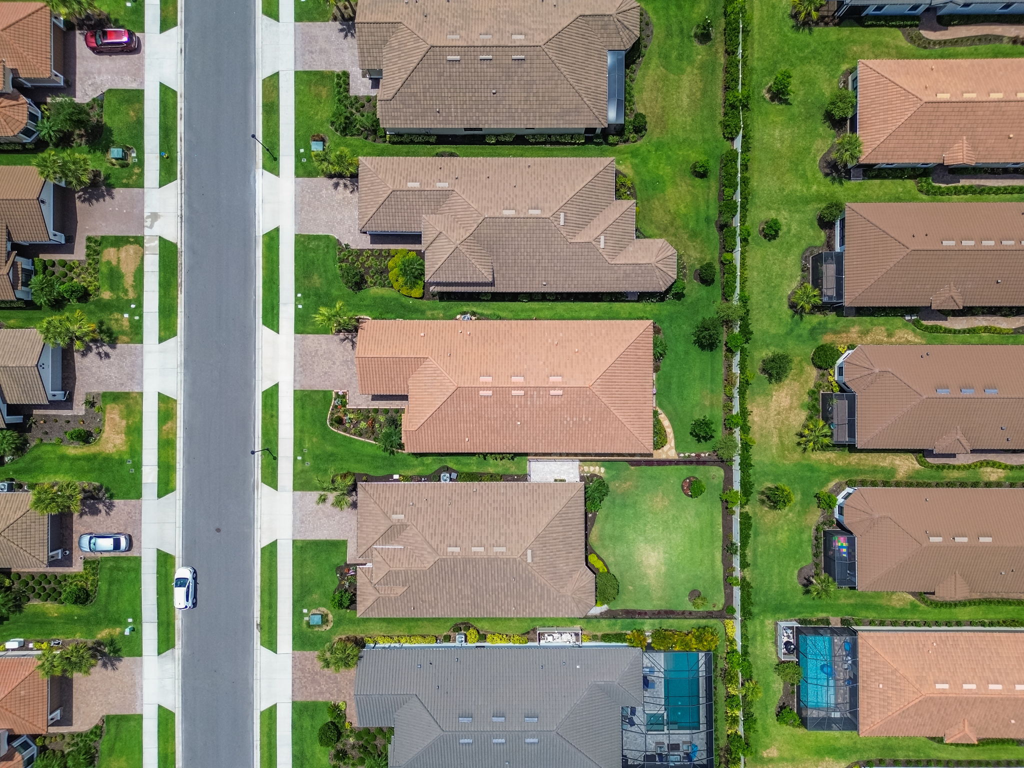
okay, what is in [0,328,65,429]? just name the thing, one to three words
house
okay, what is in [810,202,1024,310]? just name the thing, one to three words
house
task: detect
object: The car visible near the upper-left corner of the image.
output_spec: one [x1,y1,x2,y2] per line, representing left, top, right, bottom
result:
[86,27,135,53]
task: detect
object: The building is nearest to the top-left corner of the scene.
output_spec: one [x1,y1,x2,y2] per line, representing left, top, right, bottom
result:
[0,1,65,140]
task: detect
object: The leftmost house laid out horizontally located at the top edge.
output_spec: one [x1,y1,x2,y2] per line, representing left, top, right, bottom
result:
[355,0,641,135]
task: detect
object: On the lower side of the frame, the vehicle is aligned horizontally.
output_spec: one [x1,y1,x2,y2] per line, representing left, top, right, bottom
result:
[80,532,130,555]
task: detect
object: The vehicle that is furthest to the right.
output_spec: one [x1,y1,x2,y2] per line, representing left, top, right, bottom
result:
[171,566,196,609]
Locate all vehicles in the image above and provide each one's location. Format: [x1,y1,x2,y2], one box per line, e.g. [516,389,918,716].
[171,566,196,609]
[80,532,130,555]
[86,27,135,53]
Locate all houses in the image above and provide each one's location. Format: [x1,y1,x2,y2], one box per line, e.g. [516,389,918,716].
[0,492,63,569]
[0,1,65,140]
[0,653,62,768]
[820,344,1024,454]
[833,0,1024,21]
[794,625,1024,745]
[823,487,1024,597]
[0,328,65,429]
[355,0,641,135]
[355,319,654,454]
[358,156,677,293]
[848,59,1024,172]
[810,202,1024,310]
[0,166,65,303]
[354,641,714,768]
[356,481,597,619]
